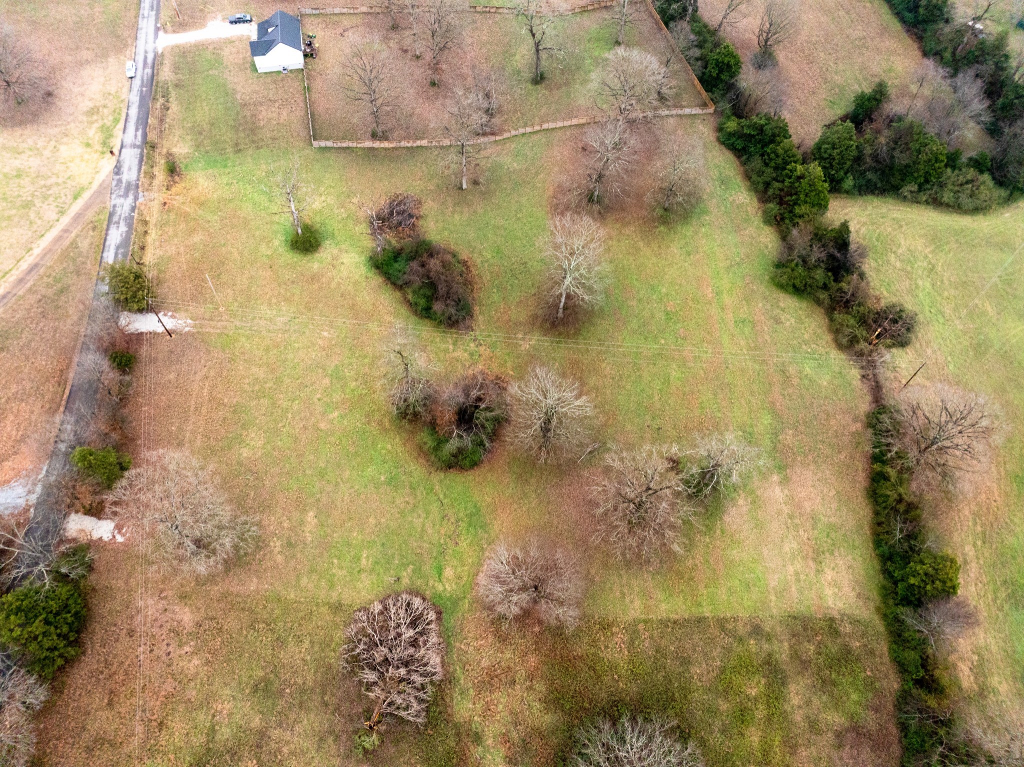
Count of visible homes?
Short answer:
1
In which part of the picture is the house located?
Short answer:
top left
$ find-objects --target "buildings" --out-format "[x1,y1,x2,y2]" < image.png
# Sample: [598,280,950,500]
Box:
[249,8,303,72]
